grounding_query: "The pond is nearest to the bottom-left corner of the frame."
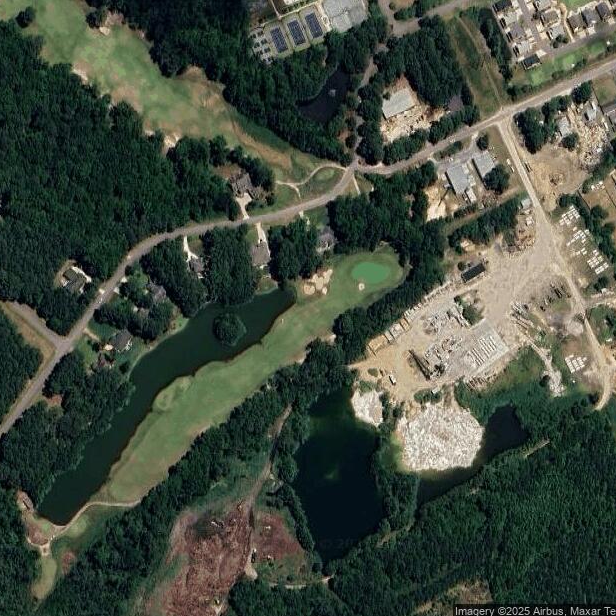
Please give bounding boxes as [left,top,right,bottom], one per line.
[40,288,296,526]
